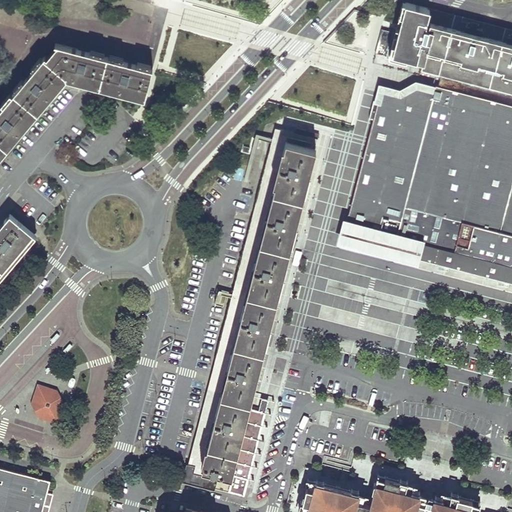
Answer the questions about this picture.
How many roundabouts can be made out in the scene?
1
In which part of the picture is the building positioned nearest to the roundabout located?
left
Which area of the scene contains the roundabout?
left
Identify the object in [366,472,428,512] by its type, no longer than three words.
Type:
house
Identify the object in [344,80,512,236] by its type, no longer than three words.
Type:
building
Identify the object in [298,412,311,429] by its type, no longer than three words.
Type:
vehicle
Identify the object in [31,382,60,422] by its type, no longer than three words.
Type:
building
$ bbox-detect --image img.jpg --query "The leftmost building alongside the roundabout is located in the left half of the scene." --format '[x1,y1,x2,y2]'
[0,214,36,282]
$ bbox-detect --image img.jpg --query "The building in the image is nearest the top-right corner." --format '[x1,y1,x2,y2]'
[390,6,512,96]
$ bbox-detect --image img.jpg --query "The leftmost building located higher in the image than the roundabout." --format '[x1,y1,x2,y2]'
[0,44,152,163]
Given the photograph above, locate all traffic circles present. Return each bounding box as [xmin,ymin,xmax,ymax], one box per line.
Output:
[64,170,168,275]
